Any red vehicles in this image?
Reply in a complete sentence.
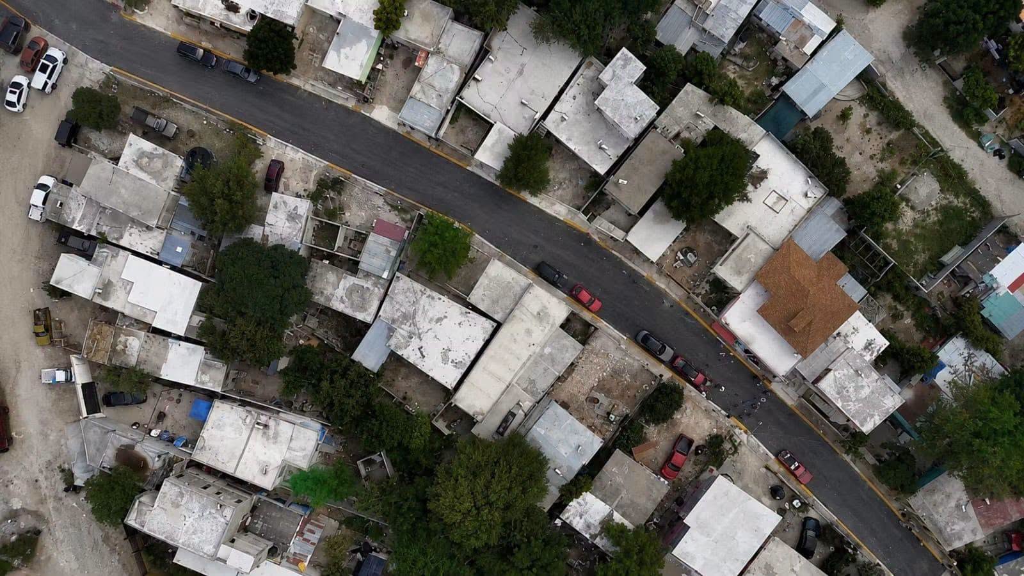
Yes, the photo shows a red vehicle.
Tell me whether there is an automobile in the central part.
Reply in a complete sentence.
Yes, an automobile is visible in the central part.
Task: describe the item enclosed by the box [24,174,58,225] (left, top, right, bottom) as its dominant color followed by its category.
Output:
white truck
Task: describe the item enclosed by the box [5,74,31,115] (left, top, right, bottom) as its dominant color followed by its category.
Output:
white car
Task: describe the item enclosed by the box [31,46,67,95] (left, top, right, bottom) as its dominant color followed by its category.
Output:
white truck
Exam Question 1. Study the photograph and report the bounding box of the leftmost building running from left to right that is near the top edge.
[170,0,262,37]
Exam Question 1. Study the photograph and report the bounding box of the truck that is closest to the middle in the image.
[532,258,569,289]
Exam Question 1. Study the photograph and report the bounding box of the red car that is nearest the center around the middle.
[567,282,603,313]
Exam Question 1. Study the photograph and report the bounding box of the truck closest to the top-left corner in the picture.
[0,13,29,59]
